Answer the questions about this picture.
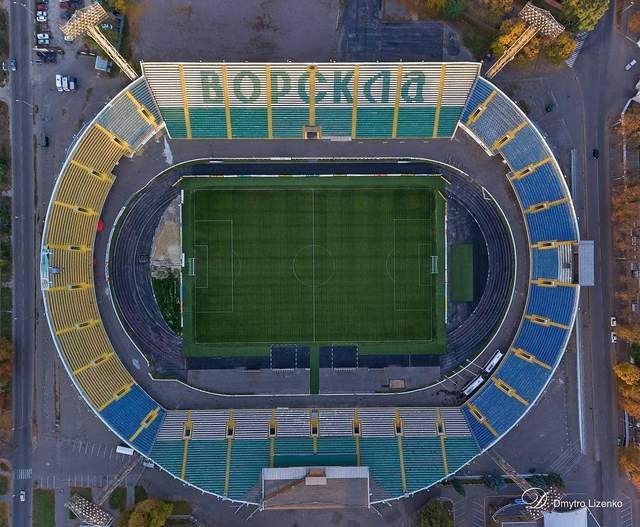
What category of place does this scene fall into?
sports ground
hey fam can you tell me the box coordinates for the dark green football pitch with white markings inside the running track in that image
[182,176,447,394]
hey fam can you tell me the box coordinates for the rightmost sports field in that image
[451,244,473,302]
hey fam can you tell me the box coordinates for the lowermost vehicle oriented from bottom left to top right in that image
[461,374,486,396]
